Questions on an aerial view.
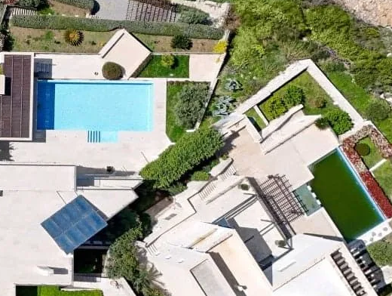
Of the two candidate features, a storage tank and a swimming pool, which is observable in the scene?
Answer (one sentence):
It is a swimming pool that can be seen here.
